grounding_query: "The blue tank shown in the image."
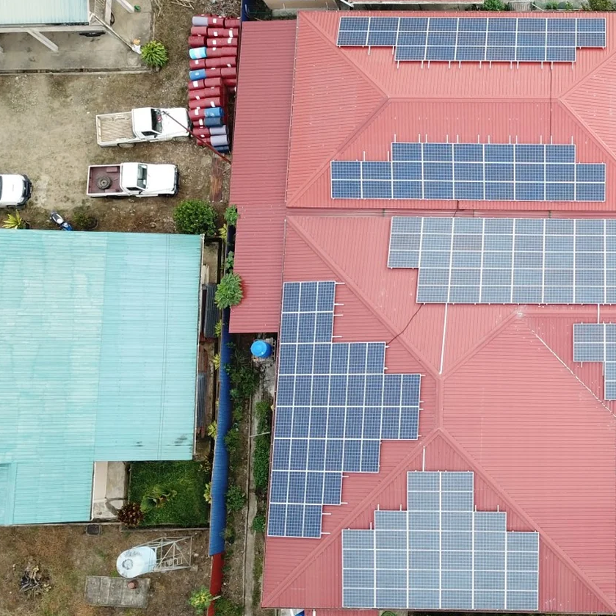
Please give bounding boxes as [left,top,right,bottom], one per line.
[251,338,275,366]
